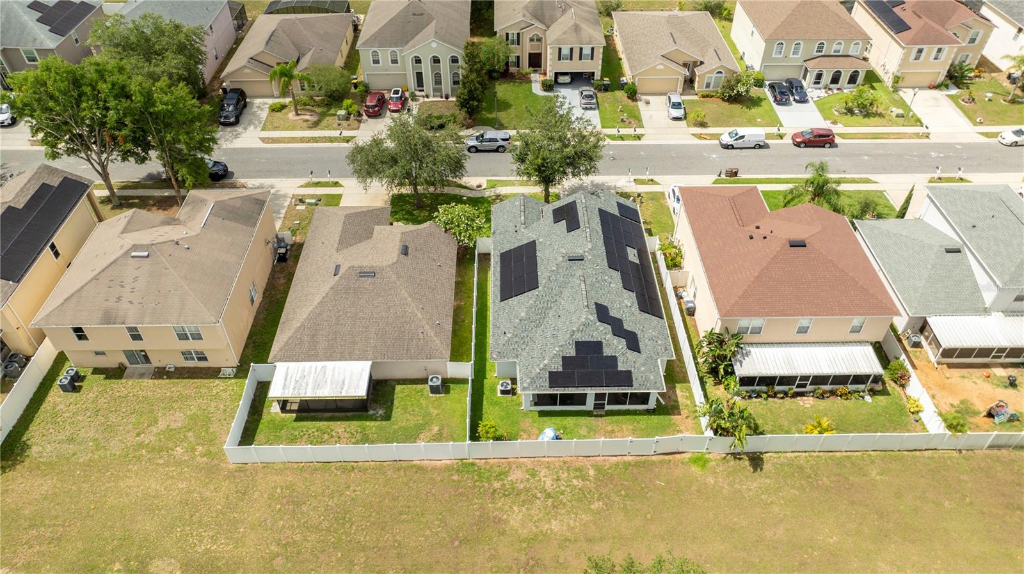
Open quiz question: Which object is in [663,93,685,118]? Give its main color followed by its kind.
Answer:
white car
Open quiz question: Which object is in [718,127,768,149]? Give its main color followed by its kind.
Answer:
white vehicle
